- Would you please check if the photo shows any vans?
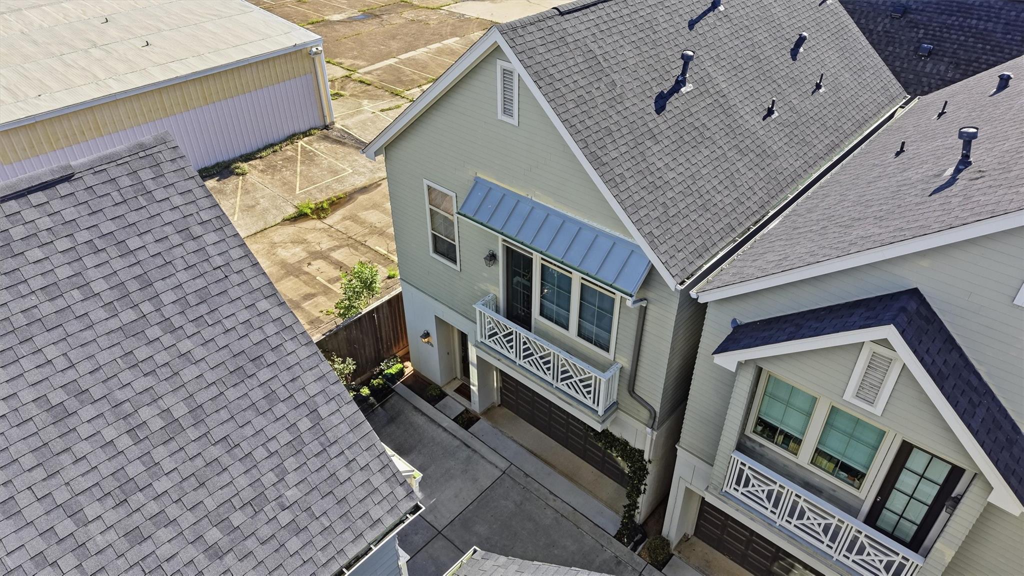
No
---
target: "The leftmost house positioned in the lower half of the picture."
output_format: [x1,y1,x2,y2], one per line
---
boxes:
[0,130,433,576]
